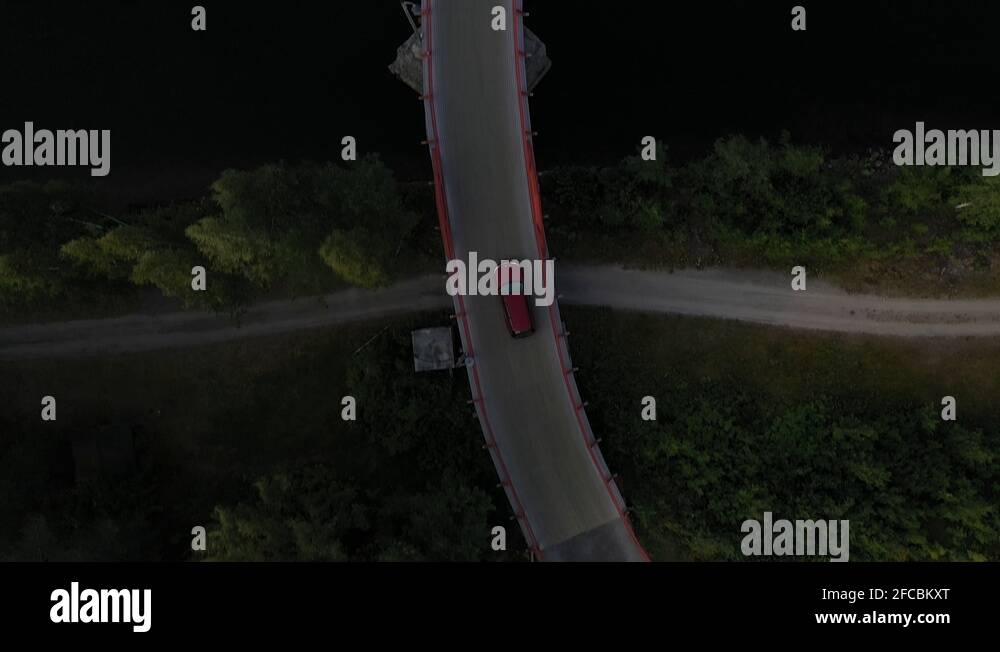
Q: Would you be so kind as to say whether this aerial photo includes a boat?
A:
No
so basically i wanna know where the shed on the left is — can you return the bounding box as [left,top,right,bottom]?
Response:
[77,419,151,480]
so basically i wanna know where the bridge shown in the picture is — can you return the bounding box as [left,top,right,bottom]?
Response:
[390,0,699,652]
